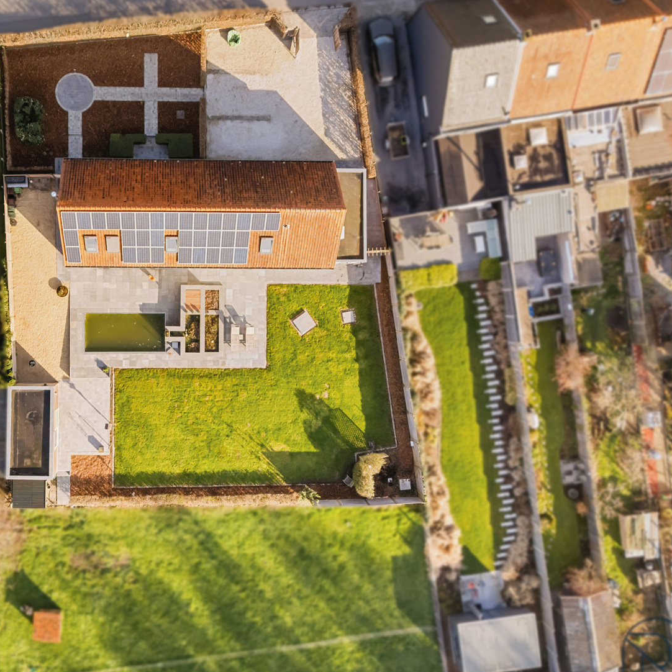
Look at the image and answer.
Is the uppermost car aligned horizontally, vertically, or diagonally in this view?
vertically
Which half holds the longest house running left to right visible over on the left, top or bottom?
top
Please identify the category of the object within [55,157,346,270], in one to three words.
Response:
house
